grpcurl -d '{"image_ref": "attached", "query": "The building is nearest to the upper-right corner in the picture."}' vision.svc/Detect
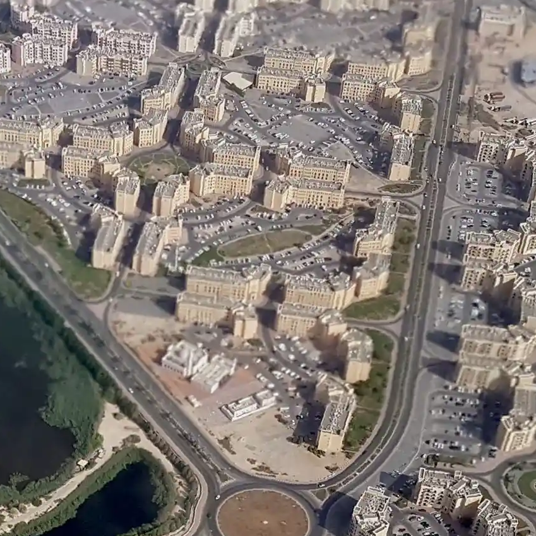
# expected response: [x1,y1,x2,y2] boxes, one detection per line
[471,4,525,39]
